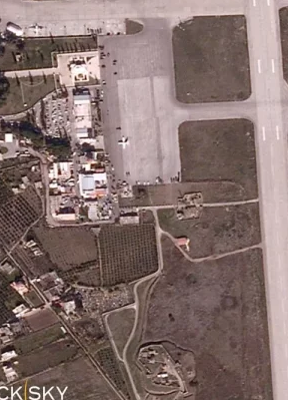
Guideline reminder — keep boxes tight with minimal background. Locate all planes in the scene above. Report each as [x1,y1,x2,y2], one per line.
[29,24,43,35]
[118,137,129,149]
